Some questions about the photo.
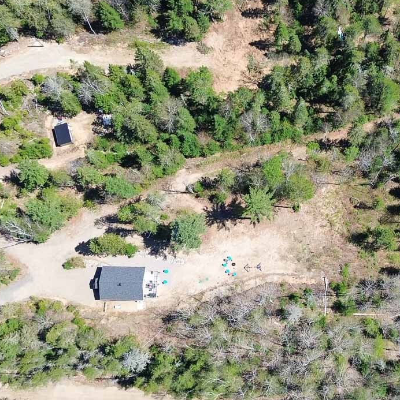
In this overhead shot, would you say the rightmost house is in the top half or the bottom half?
bottom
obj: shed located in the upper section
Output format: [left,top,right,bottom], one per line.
[55,124,75,151]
